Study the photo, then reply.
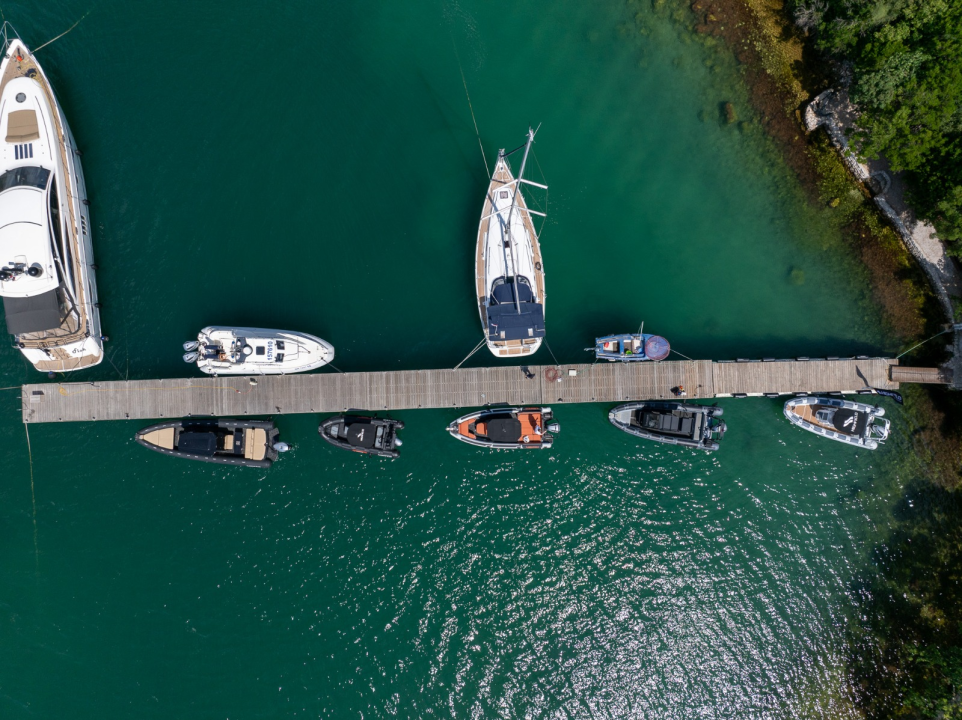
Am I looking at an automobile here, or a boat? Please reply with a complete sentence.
Looking from above, you can make out a boat.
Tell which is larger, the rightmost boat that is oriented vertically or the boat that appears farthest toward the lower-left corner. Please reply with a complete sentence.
The rightmost boat that is oriented vertically is larger than the boat that appears farthest toward the lower-left corner.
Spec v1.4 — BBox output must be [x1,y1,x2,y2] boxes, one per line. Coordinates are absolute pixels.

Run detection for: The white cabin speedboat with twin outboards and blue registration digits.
[182,327,333,378]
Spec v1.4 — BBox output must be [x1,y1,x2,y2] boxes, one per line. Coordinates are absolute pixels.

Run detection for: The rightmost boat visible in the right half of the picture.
[784,399,891,449]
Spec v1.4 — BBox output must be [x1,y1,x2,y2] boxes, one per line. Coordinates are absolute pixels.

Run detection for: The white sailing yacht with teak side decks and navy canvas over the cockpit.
[474,129,548,357]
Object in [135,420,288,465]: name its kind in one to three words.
boat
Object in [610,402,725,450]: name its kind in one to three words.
boat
